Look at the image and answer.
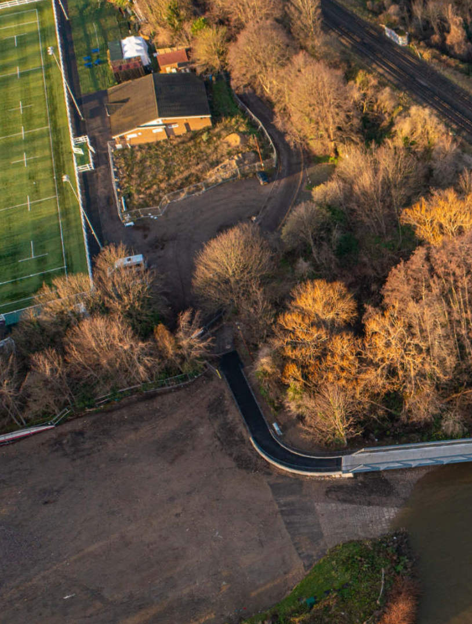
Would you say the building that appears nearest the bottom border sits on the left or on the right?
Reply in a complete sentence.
The building that appears nearest the bottom border appears in the left half of the scene.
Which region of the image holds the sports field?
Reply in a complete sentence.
The sports field sits in the top left section of the image.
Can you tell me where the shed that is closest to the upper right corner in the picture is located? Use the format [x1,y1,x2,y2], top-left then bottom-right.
[396,37,436,61]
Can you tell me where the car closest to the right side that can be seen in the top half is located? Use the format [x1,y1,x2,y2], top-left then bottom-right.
[255,168,268,183]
